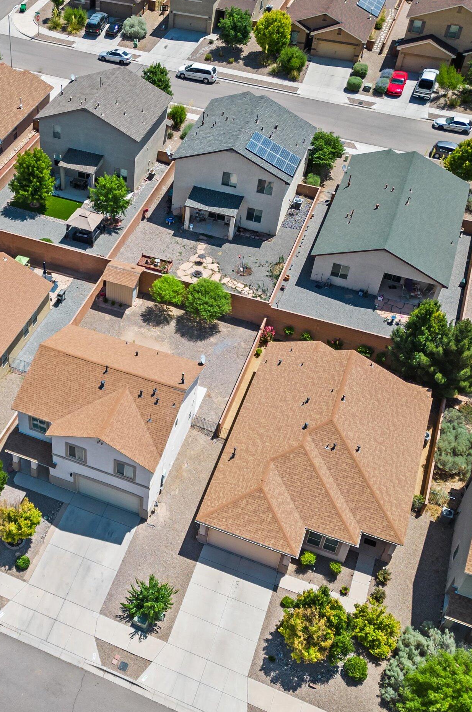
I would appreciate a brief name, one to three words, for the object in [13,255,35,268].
umbrella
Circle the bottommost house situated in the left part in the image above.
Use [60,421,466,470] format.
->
[4,324,207,519]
